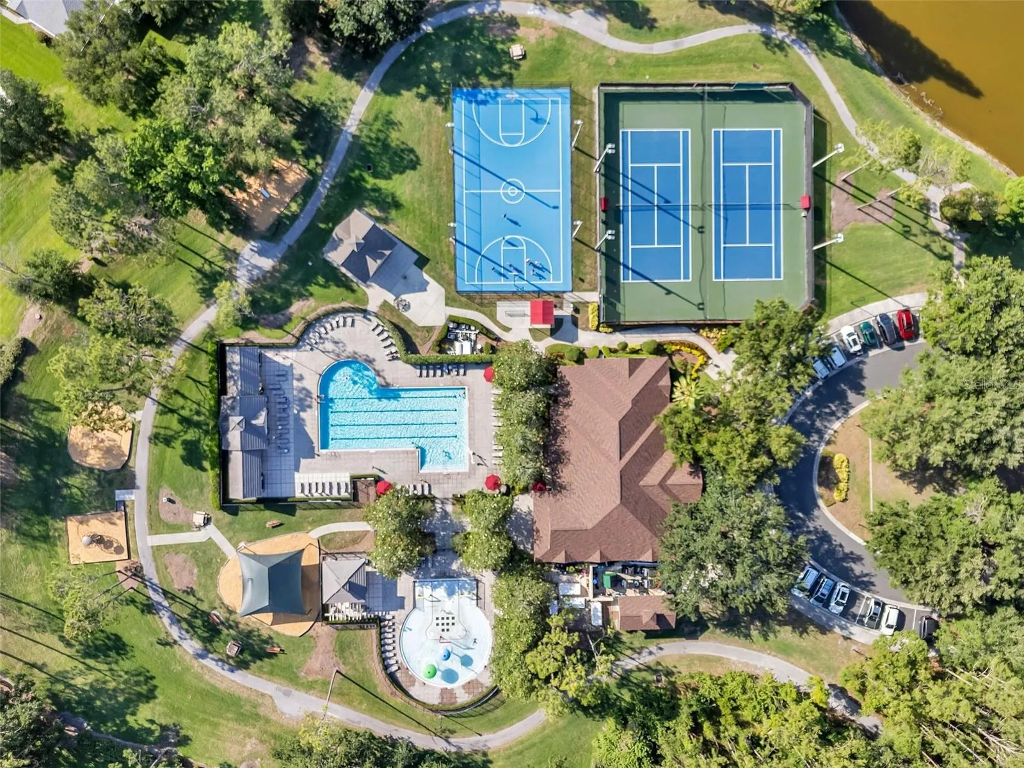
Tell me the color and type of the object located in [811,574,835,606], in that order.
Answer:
blue car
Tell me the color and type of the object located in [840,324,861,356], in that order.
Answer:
white car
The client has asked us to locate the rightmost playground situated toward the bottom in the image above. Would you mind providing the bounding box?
[217,532,322,637]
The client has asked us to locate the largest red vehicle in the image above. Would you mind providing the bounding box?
[896,309,913,341]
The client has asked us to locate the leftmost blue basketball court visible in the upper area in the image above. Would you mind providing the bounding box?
[453,89,572,293]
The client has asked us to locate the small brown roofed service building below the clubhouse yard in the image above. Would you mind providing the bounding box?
[619,595,676,634]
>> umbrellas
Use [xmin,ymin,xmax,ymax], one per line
[532,482,547,495]
[484,474,501,491]
[481,366,492,382]
[376,480,392,495]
